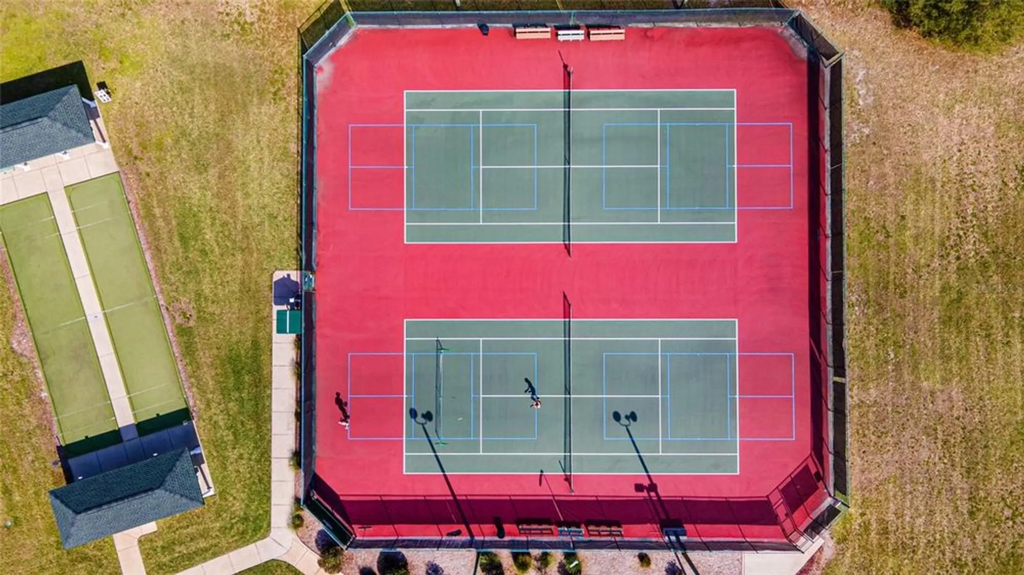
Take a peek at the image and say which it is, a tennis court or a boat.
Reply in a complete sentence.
It is a tennis court that can be seen here.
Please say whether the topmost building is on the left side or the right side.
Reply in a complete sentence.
You can find the topmost building on the left side of the picture.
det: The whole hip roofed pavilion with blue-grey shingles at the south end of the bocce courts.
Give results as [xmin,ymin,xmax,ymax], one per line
[48,447,213,548]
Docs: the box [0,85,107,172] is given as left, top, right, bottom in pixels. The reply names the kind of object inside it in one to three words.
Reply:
building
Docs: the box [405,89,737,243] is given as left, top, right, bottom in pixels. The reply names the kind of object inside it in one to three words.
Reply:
tennis court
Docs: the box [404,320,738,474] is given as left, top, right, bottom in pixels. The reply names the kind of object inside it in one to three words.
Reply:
tennis court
